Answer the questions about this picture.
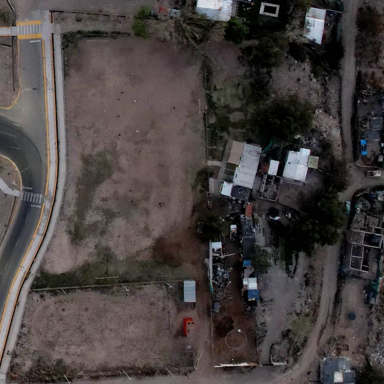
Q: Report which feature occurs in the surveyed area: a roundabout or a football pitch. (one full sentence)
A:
This aerial view contains a football pitch.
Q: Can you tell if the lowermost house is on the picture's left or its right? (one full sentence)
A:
It is on the right.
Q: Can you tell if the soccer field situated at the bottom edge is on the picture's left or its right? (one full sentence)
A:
It is on the left.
